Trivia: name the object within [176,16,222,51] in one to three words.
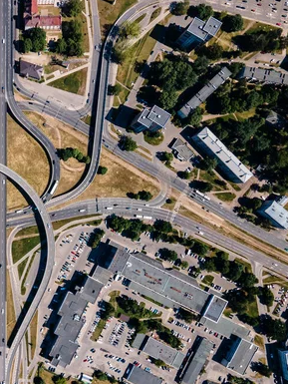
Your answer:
building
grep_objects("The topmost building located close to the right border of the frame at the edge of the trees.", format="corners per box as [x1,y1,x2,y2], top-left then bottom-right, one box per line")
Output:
[235,66,288,89]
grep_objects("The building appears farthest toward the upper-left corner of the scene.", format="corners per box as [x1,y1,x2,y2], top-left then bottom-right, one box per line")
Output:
[23,0,62,32]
